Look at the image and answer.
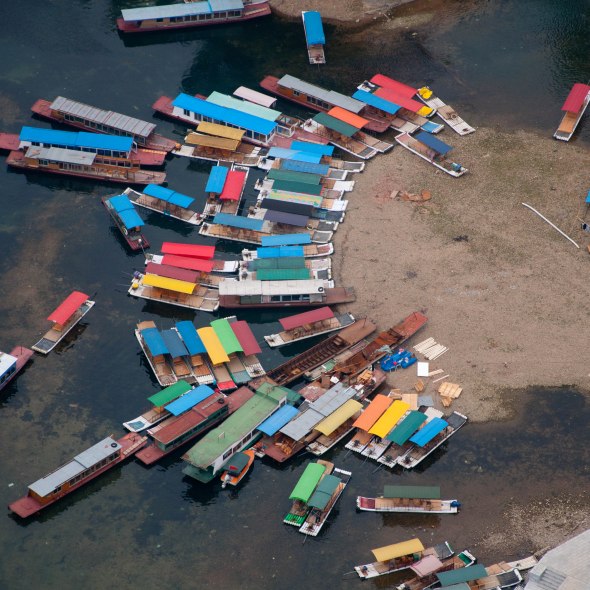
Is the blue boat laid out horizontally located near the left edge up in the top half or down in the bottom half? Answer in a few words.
top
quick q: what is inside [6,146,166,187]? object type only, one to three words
boat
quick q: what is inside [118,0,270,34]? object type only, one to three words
boat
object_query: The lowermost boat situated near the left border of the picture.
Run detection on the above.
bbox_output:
[9,432,148,517]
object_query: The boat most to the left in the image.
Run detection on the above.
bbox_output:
[0,342,36,395]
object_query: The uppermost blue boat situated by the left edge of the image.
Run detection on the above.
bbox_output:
[0,127,167,169]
